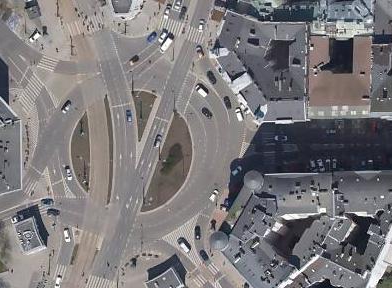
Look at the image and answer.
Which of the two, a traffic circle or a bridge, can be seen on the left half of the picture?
traffic circle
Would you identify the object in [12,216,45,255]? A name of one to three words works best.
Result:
building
